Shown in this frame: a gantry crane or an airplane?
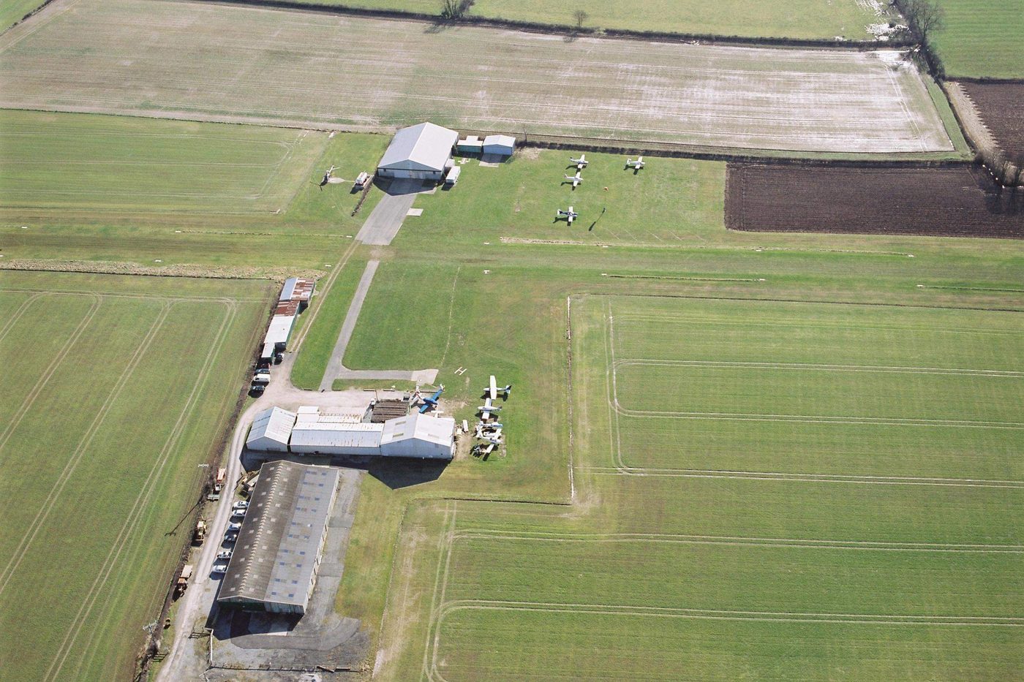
airplane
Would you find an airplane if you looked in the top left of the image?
No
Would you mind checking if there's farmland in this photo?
Yes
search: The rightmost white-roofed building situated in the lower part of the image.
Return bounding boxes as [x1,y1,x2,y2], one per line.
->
[379,408,456,460]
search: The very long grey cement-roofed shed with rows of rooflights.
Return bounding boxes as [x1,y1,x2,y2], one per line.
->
[215,458,340,613]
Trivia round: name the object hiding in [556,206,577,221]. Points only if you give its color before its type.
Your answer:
white airplane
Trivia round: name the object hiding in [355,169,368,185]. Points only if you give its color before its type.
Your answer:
white vehicle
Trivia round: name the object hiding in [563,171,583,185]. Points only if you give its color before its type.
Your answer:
white airplane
